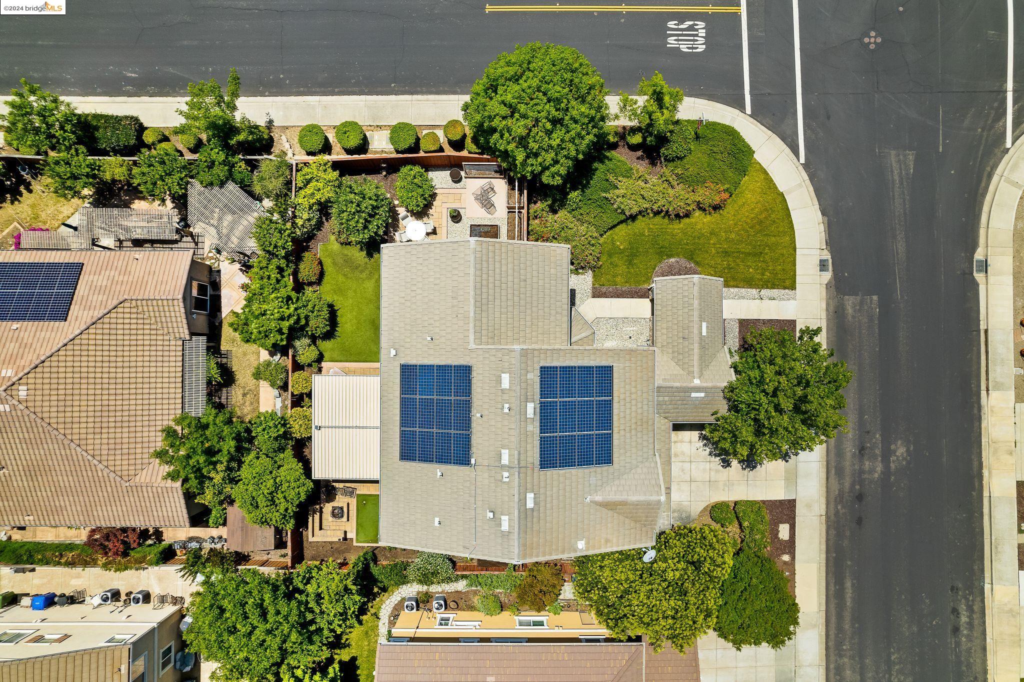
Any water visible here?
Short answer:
No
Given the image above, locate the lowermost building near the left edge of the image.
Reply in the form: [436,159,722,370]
[0,606,183,682]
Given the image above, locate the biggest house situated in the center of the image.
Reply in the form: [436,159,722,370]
[378,238,732,564]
